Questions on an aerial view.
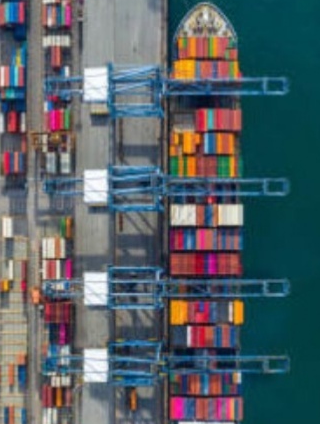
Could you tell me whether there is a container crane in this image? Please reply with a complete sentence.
Yes, a container crane is visible in the scene.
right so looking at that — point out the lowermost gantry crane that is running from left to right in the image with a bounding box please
[44,334,289,387]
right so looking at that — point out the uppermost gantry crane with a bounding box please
[44,62,289,125]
